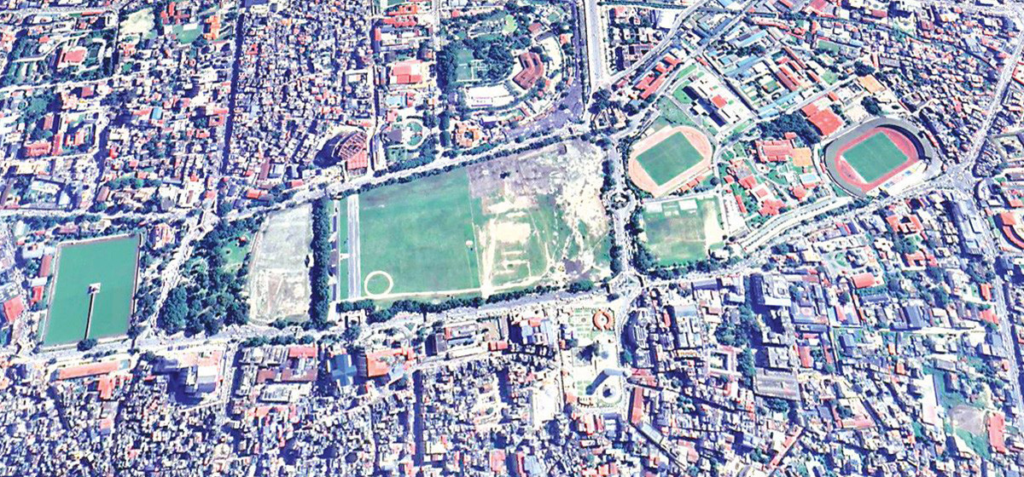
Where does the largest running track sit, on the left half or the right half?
right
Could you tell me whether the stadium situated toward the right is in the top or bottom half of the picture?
top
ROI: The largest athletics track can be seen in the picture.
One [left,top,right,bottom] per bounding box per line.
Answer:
[627,123,716,193]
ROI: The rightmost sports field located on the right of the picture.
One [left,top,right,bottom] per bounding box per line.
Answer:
[842,131,907,182]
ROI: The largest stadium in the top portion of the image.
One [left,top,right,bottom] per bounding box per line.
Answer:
[819,114,939,202]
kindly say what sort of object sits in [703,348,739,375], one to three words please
house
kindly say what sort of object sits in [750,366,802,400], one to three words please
building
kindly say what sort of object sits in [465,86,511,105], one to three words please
building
